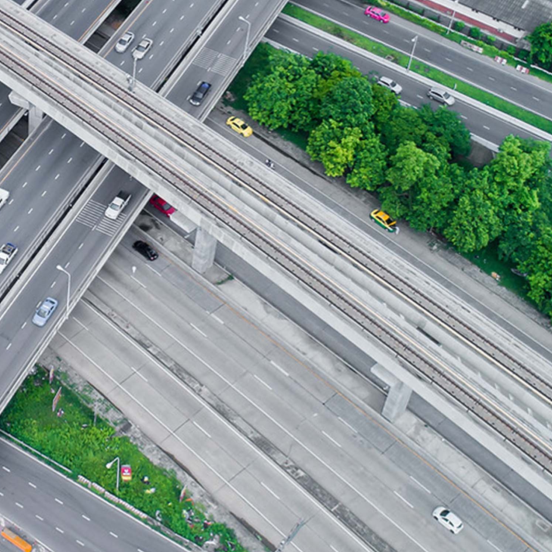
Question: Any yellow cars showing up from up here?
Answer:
Yes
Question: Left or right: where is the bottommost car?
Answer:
right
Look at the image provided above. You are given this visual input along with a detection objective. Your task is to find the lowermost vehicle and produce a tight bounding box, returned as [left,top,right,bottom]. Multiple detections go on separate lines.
[430,504,469,537]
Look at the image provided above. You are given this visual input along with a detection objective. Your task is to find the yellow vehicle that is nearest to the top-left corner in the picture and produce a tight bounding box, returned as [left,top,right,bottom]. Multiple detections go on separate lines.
[226,116,254,137]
